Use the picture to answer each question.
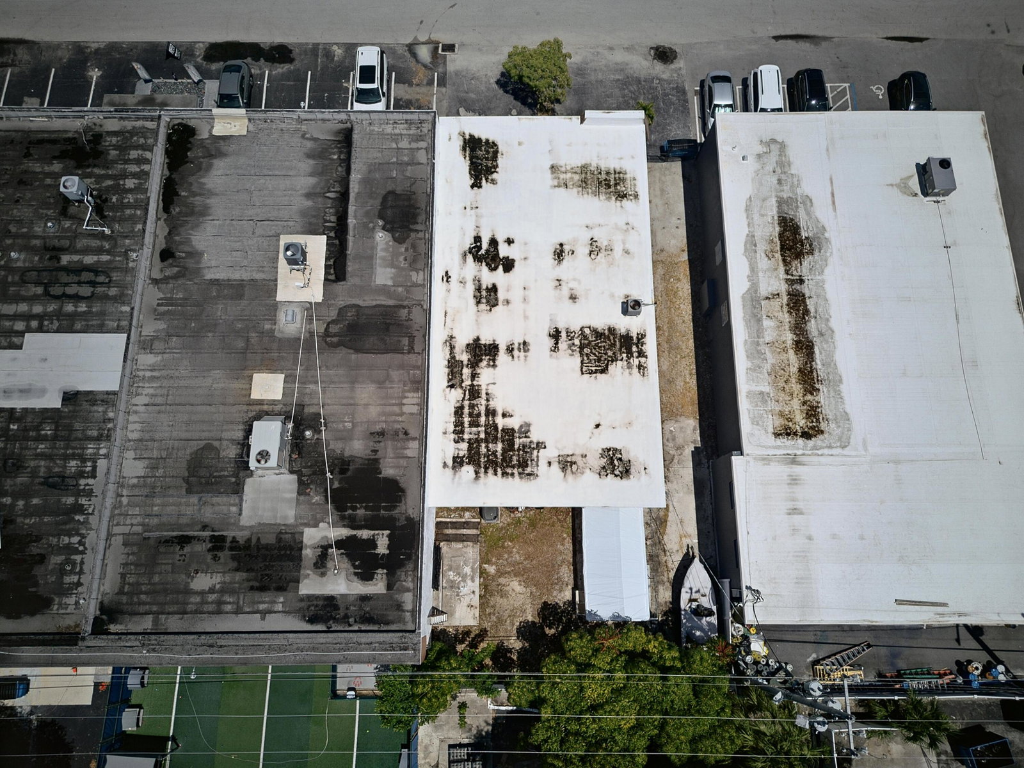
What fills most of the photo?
buildings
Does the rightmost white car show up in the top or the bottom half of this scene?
top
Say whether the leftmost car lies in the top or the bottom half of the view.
top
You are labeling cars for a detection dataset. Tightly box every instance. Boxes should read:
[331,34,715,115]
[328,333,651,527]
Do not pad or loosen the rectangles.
[788,72,829,111]
[701,73,736,136]
[889,74,934,111]
[350,49,389,111]
[744,68,783,111]
[213,64,256,111]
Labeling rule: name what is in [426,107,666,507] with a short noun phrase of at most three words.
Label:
building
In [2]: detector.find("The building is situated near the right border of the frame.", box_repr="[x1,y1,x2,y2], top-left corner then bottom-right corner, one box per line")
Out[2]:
[700,111,1024,623]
